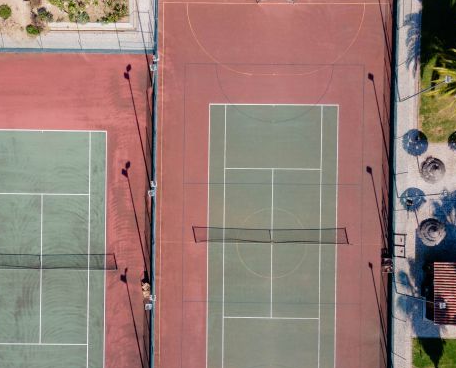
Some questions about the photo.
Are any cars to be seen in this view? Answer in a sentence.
No, no car is visible in the scene.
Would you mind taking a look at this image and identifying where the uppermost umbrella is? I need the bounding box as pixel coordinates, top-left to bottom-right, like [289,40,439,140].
[416,154,446,183]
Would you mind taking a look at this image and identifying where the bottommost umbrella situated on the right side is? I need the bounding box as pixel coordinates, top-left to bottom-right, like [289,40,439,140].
[415,216,444,246]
